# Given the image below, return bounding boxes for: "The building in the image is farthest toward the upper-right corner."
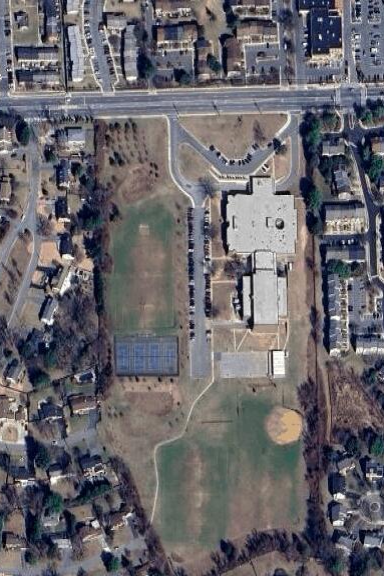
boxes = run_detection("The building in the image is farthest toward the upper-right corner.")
[299,0,343,58]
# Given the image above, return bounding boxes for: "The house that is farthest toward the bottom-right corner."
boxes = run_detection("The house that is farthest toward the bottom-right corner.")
[362,532,384,551]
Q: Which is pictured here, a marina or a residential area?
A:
residential area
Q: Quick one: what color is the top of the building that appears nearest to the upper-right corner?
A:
black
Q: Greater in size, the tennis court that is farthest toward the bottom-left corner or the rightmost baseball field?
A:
the tennis court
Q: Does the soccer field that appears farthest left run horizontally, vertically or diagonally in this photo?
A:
vertically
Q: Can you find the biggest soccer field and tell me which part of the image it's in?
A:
bottom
